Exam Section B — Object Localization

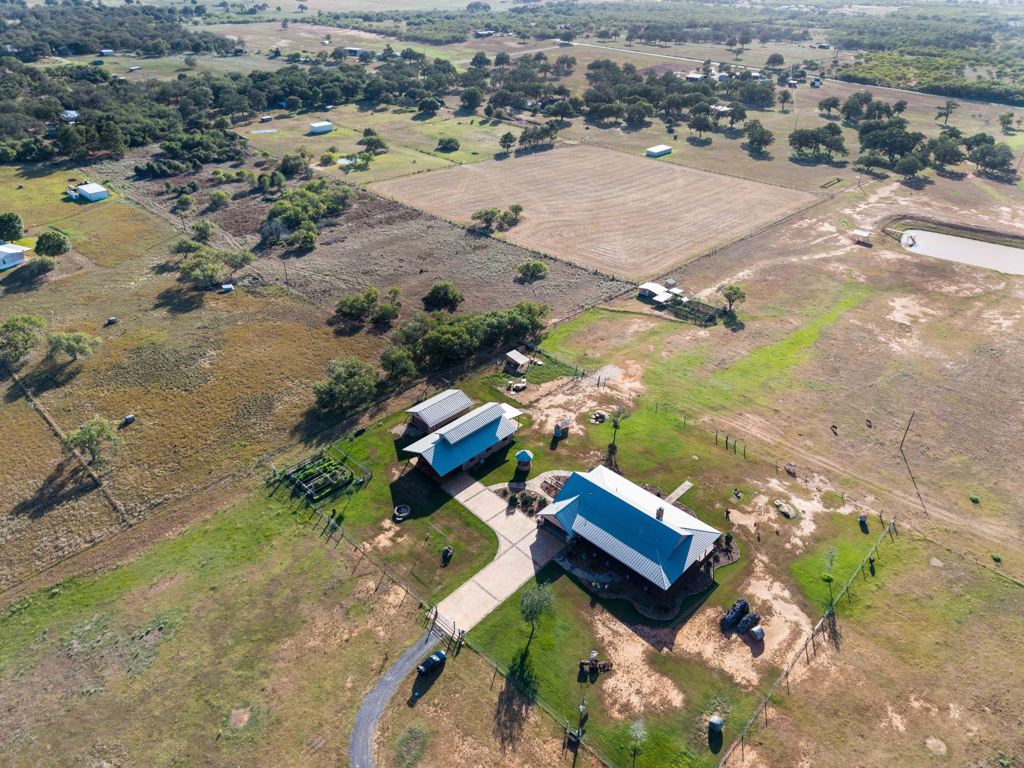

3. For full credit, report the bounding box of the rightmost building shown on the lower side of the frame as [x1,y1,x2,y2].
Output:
[535,464,722,600]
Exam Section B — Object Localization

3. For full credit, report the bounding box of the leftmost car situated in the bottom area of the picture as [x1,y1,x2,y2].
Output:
[413,651,447,678]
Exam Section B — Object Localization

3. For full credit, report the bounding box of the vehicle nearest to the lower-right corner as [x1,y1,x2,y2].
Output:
[586,659,610,676]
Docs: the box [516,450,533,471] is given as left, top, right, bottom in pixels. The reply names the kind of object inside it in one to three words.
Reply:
gazebo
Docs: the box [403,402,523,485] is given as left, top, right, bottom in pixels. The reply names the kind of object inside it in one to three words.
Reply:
building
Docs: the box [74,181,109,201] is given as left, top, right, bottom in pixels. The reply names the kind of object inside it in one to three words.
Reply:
building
